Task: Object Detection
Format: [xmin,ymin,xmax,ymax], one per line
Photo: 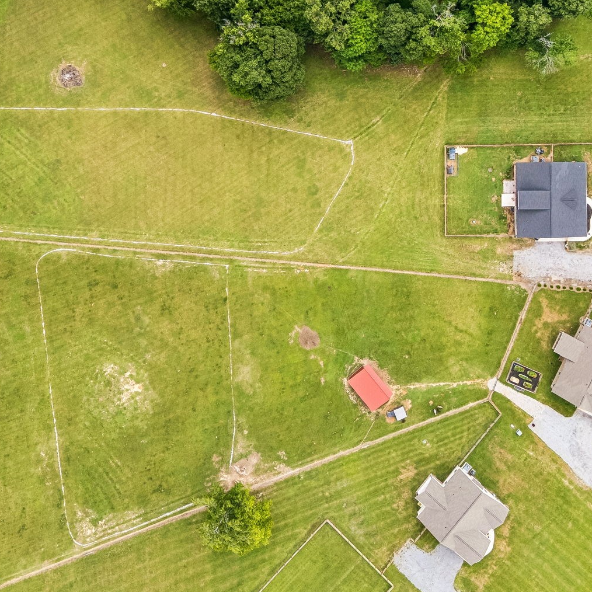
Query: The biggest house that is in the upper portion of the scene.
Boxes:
[515,162,588,238]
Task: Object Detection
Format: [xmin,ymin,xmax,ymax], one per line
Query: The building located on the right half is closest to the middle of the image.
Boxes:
[349,364,392,411]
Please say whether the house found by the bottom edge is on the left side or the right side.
right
